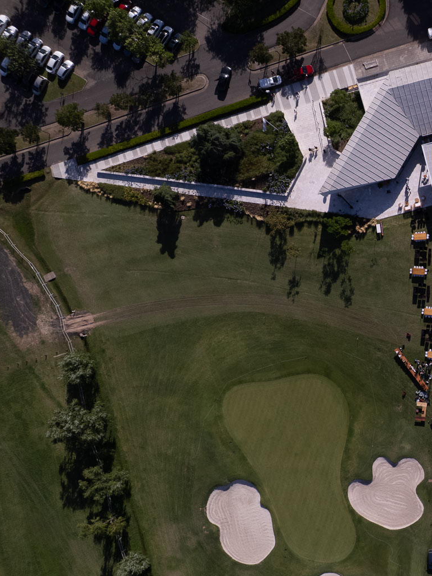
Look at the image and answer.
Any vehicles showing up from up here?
Yes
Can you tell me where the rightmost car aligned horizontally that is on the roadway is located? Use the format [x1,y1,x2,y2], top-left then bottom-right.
[288,65,317,82]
